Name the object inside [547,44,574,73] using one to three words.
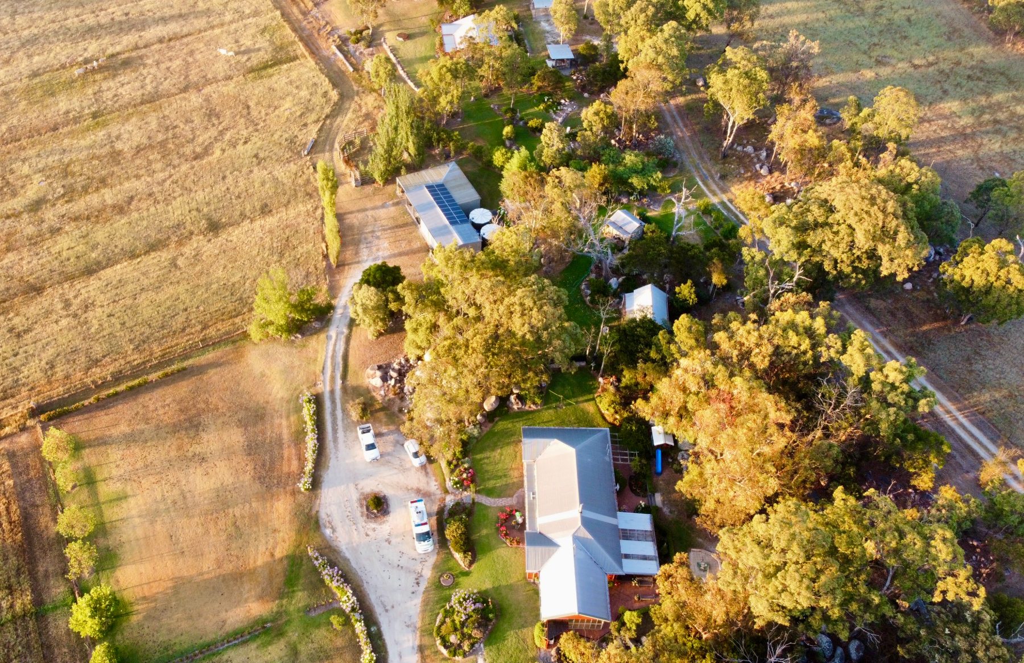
building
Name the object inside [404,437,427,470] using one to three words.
car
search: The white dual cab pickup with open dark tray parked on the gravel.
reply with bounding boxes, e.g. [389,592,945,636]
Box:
[359,424,379,461]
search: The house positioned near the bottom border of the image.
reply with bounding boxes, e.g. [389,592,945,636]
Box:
[520,427,662,657]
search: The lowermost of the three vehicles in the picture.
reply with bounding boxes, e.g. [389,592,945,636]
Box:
[410,498,433,554]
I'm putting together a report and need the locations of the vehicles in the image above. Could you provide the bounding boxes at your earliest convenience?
[359,424,379,461]
[410,498,433,554]
[404,437,427,470]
